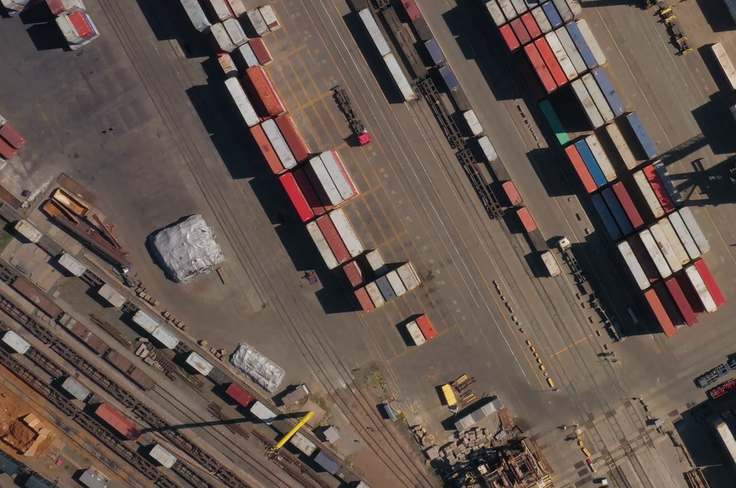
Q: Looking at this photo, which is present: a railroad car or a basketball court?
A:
railroad car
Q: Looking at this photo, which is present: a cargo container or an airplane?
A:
cargo container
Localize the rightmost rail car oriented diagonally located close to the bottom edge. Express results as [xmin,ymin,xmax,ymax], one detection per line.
[315,453,357,488]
